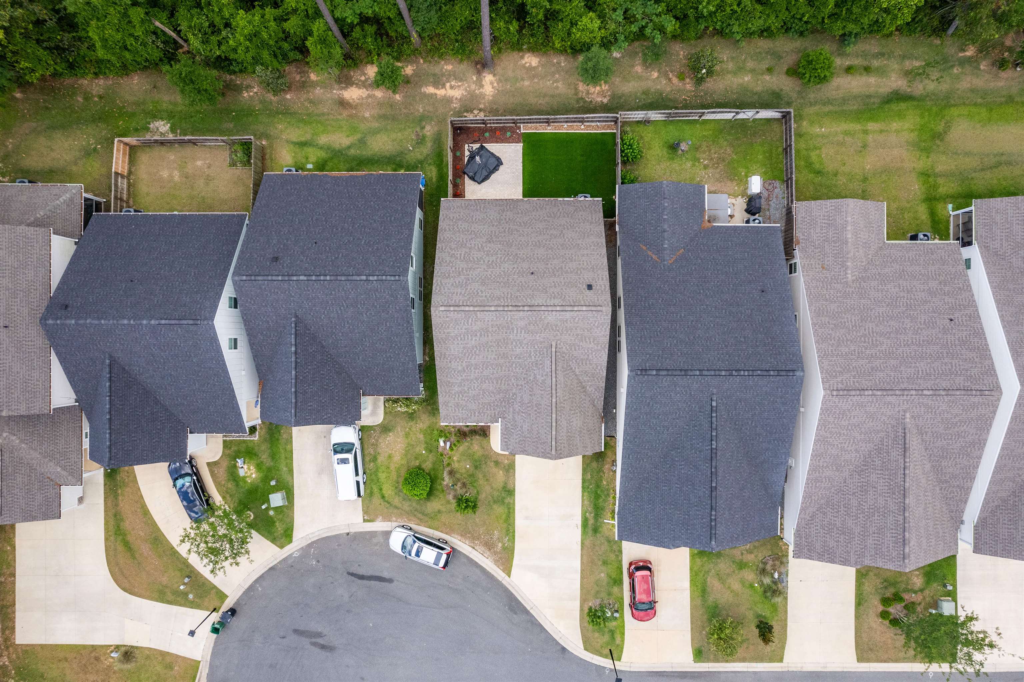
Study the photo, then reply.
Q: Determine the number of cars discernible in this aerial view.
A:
four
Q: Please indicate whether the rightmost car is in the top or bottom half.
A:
bottom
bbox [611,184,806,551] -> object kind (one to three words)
house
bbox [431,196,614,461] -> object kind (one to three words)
house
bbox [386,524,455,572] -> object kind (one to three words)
car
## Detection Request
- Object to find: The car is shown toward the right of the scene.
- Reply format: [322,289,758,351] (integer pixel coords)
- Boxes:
[628,559,662,623]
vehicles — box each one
[628,559,662,623]
[165,457,215,526]
[326,422,367,501]
[386,524,455,572]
